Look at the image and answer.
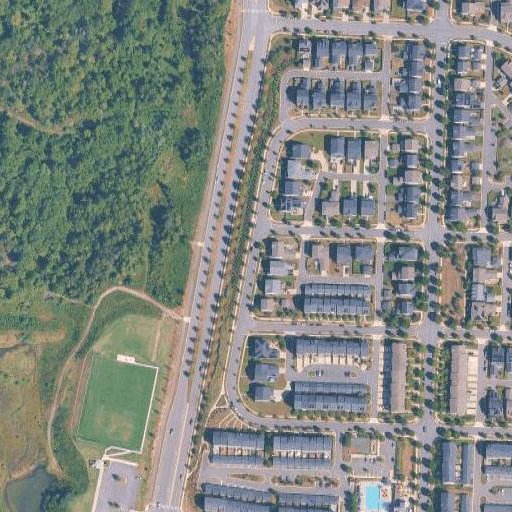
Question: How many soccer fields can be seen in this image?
1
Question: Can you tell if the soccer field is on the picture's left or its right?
left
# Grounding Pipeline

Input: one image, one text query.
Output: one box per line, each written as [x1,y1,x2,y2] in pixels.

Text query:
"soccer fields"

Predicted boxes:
[76,353,159,453]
